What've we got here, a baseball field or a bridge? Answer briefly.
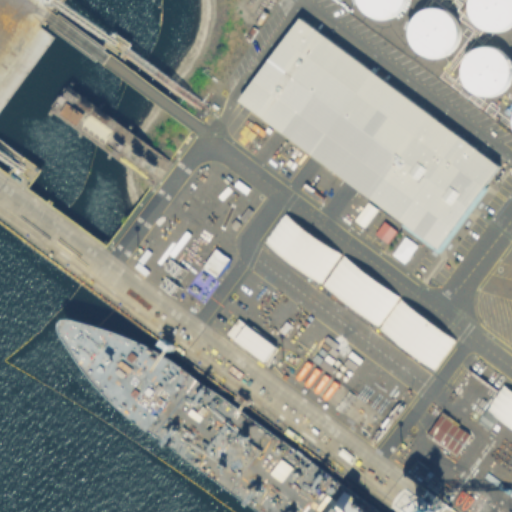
bridge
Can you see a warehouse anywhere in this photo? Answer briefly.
Yes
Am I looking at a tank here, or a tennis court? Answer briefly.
tank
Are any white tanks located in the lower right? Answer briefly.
No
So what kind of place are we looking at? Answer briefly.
port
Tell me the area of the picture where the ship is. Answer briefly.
bottom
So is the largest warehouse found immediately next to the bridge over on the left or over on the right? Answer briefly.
right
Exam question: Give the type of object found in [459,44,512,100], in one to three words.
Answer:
storage tank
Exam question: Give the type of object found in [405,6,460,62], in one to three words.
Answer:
storage tank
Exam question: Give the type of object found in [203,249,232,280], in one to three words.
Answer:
shed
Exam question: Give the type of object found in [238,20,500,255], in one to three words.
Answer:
warehouse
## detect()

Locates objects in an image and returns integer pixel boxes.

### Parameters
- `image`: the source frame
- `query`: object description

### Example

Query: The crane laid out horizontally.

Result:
[396,492,445,512]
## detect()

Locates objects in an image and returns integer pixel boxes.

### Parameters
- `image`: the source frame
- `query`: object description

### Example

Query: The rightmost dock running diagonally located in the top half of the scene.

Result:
[48,90,177,186]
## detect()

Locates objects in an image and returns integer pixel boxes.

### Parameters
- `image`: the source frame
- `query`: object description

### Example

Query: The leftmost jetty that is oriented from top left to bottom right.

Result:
[0,138,41,188]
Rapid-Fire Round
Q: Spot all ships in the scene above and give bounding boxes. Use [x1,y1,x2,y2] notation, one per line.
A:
[57,320,374,512]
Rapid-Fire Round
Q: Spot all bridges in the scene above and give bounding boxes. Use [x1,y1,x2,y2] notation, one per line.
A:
[46,14,200,130]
